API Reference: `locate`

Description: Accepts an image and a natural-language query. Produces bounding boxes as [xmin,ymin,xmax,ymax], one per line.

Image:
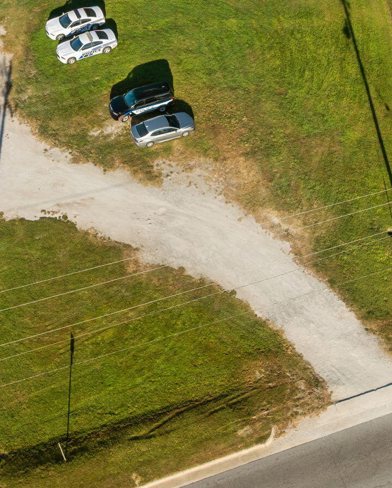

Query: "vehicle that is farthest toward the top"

[45,9,105,40]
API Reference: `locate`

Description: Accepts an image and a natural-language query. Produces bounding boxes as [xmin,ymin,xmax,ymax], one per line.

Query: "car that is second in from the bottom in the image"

[108,82,173,122]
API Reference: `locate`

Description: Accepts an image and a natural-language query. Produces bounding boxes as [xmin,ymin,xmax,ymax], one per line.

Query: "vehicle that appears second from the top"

[56,30,117,64]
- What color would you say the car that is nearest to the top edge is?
white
